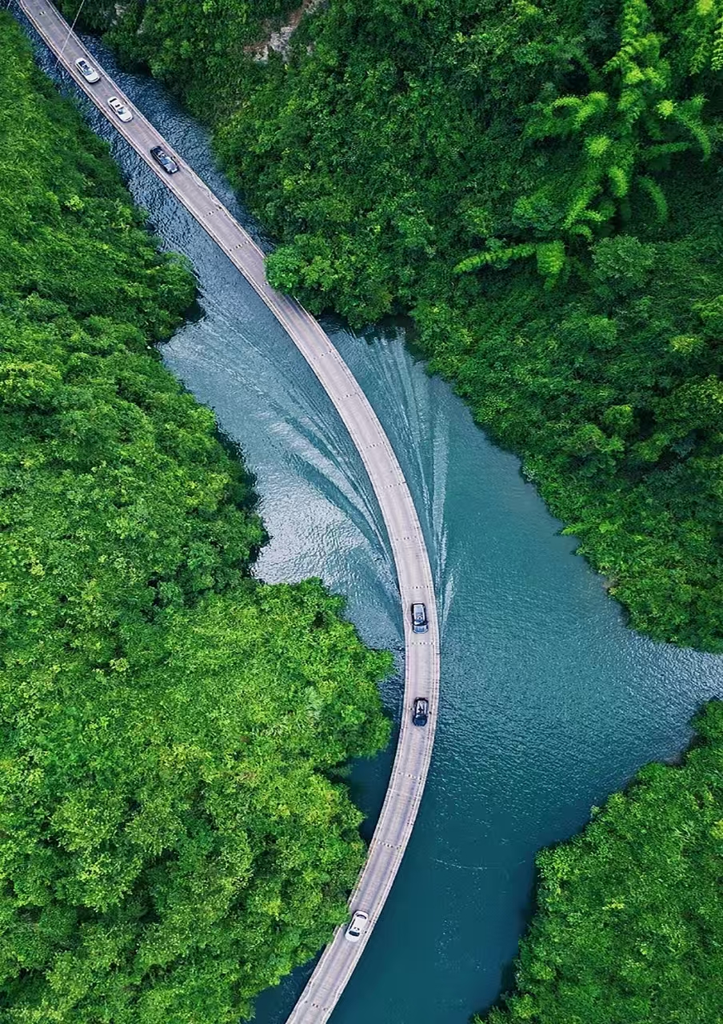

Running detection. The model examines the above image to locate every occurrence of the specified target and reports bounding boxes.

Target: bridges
[15,0,439,1024]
